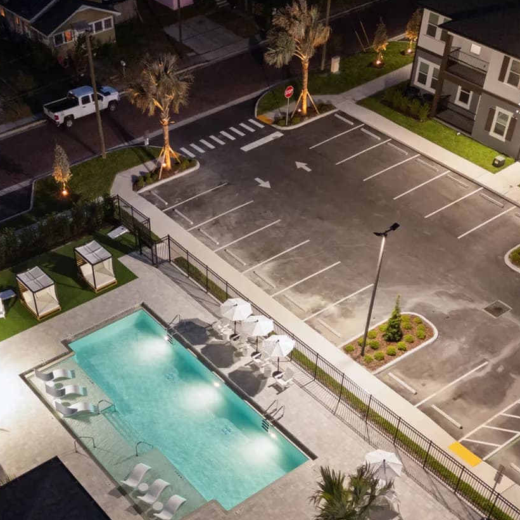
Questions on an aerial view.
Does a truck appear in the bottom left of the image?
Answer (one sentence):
No, in the bottom left of the image there is no truck.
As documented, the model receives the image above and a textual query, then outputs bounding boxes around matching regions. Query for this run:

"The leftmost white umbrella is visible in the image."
[218,298,253,330]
